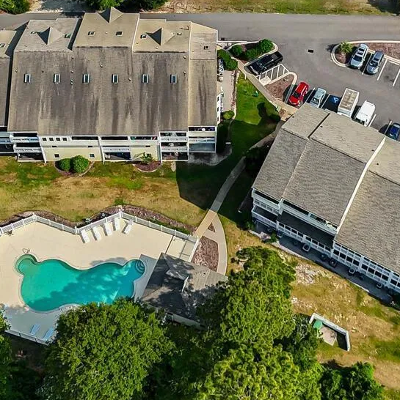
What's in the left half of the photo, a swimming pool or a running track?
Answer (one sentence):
It is a swimming pool that can be seen in the left half of the photo.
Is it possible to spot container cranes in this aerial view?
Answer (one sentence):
No, there appears to be no container crane in this shot.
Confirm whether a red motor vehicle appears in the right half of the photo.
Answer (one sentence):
Yes, I can see a red motor vehicle in the right half of the photo.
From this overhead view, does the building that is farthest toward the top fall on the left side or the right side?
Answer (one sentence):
The building that is farthest toward the top sits on the left side.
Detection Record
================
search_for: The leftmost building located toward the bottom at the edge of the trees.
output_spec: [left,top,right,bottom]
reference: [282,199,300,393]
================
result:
[139,253,226,329]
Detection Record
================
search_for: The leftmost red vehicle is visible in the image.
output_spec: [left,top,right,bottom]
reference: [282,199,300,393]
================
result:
[288,82,310,106]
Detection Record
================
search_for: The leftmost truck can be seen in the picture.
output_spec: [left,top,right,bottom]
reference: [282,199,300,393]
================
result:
[251,51,282,73]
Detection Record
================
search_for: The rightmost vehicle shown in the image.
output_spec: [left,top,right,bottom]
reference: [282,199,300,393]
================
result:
[384,120,400,140]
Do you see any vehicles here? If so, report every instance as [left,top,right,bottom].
[309,86,326,110]
[288,82,310,106]
[251,51,282,73]
[366,51,384,74]
[351,44,368,68]
[354,98,375,128]
[337,84,360,120]
[384,120,400,140]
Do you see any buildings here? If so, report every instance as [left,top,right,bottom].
[139,253,226,329]
[0,6,222,168]
[246,104,400,292]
